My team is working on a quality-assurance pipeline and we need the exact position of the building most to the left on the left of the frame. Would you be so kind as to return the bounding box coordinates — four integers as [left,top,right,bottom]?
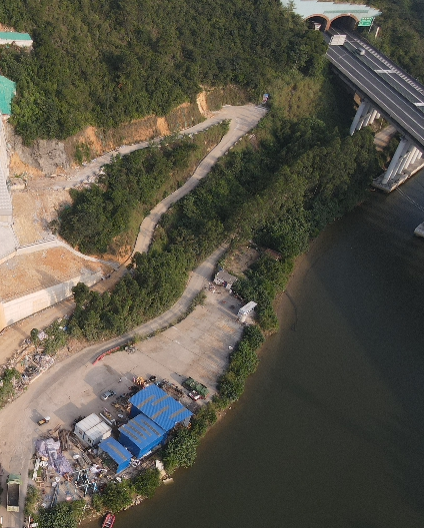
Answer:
[76,413,110,448]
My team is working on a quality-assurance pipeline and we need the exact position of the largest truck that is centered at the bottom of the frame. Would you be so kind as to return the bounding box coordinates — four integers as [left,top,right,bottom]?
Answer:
[180,372,215,398]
